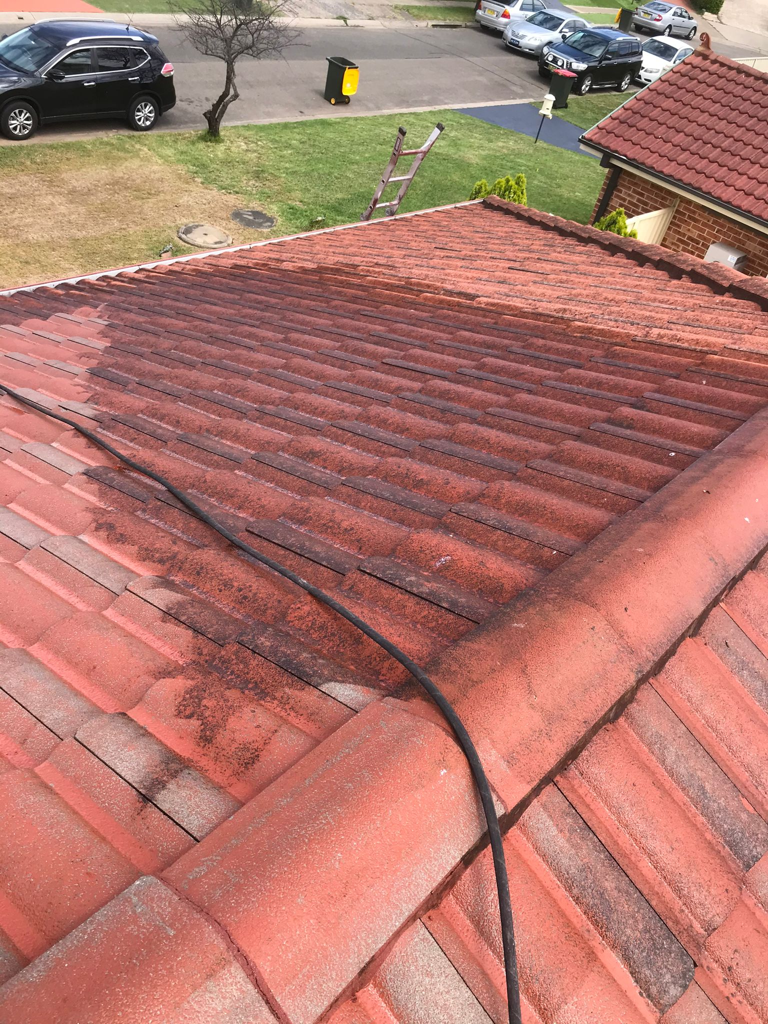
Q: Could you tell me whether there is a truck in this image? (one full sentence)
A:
No, no truck is visible in the scene.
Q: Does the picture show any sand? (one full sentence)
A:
No, the scene doesn't show any sand.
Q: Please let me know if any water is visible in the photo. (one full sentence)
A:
No, water can't be seen anywhere here.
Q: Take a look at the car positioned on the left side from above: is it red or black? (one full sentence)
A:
From above, the car positioned on the left side appears black.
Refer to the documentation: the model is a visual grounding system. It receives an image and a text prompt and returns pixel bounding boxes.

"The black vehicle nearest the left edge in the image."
[0,18,180,137]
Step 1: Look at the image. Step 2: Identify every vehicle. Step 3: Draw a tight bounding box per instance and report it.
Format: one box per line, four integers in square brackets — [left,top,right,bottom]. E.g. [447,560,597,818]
[638,1,697,38]
[503,12,587,52]
[0,18,180,137]
[529,20,644,93]
[479,0,549,29]
[634,42,692,84]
